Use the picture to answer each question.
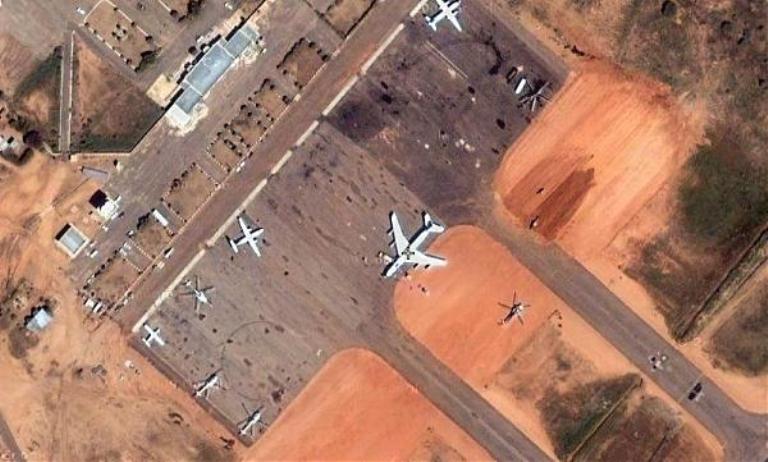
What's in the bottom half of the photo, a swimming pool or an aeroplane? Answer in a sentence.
The one visible in the bottom half of the photo is an aeroplane.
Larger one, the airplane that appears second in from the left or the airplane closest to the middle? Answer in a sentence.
The airplane closest to the middle takes up more space than the airplane that appears second in from the left.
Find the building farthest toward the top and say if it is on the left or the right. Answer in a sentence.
The building farthest toward the top sits on the left side.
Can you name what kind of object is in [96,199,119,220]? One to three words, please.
building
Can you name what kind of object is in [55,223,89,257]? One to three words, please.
building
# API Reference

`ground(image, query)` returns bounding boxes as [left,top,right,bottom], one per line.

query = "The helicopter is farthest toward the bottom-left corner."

[194,370,225,399]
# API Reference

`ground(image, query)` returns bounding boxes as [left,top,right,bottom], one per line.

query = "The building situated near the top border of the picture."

[166,22,260,127]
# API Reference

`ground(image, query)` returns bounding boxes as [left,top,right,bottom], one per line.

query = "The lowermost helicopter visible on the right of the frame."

[500,292,530,321]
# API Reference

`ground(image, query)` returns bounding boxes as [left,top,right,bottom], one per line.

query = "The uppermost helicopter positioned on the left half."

[184,278,214,306]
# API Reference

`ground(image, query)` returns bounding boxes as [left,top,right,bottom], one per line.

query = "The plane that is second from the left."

[229,217,262,256]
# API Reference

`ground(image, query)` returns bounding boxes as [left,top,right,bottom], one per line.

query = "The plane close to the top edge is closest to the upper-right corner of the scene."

[425,0,462,30]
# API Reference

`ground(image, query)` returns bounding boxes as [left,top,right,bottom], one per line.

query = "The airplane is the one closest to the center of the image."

[385,212,448,277]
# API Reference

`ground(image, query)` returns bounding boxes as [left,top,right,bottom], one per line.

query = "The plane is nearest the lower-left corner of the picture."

[142,326,163,346]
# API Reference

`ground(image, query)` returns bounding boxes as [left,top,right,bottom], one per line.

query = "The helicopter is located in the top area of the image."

[519,81,548,111]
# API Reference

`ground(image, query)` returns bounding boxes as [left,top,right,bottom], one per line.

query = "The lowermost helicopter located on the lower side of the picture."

[238,406,268,435]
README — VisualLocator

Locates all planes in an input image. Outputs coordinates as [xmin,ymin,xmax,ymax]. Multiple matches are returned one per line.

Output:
[142,326,163,346]
[229,217,262,256]
[425,0,462,30]
[385,212,448,277]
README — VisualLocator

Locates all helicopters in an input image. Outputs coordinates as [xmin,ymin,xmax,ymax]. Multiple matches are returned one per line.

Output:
[194,370,225,399]
[184,278,214,306]
[500,292,530,321]
[519,81,548,111]
[238,406,268,435]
